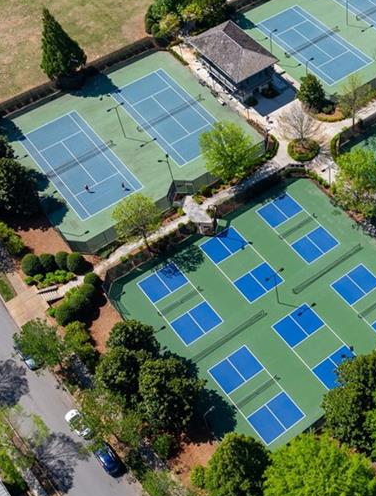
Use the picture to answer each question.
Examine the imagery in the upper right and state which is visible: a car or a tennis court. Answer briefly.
tennis court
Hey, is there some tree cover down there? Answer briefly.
Yes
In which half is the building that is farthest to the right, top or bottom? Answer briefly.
top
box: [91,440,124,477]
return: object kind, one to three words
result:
car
